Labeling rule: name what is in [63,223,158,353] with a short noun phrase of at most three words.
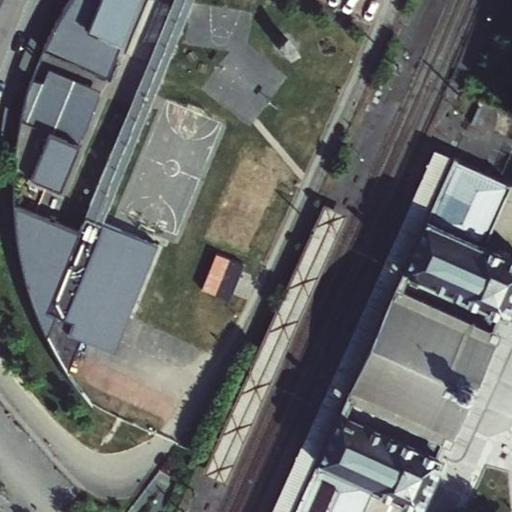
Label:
building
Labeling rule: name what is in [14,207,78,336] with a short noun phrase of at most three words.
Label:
building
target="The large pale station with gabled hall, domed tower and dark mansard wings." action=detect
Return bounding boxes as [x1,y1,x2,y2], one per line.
[301,162,512,512]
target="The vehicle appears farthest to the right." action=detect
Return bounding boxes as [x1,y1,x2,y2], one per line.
[364,1,378,22]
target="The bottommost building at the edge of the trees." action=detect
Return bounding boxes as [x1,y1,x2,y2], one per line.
[131,470,170,512]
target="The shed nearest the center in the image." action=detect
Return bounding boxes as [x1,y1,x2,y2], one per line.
[202,255,240,298]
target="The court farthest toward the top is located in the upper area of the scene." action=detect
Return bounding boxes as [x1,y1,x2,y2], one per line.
[184,4,287,124]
